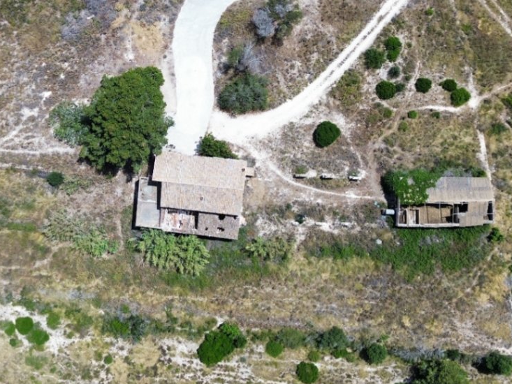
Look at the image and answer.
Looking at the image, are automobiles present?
No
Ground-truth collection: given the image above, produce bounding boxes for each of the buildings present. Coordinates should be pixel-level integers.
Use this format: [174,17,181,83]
[136,156,254,241]
[390,176,494,228]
